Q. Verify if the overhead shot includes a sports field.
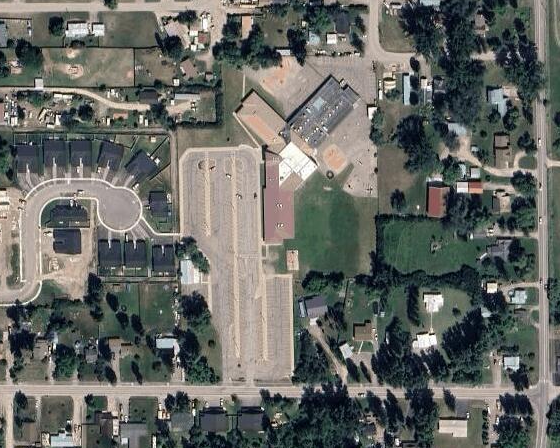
Yes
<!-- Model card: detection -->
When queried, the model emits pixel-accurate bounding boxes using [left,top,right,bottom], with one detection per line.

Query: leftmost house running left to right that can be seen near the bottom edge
[42,428,80,447]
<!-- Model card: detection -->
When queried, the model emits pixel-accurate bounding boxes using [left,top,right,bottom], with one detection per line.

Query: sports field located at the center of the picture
[283,172,375,269]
